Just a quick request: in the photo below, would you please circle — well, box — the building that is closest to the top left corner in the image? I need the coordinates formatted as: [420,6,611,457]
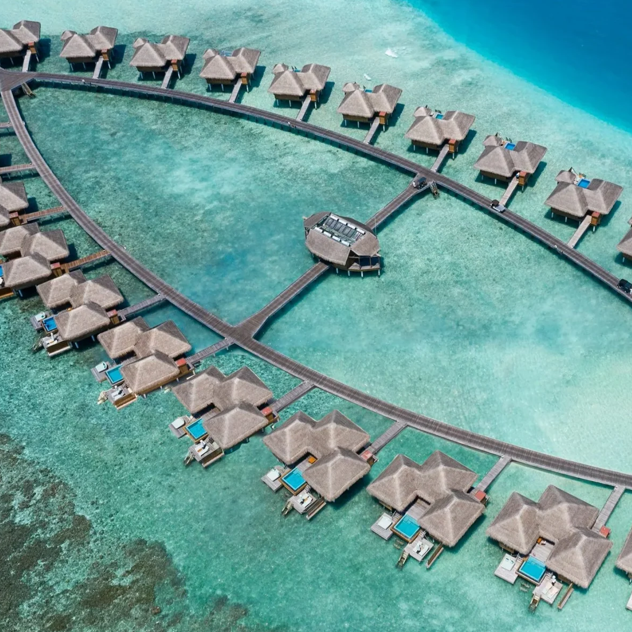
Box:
[0,18,41,68]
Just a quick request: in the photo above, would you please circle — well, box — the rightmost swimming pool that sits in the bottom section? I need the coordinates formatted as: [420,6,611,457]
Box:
[516,556,549,586]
